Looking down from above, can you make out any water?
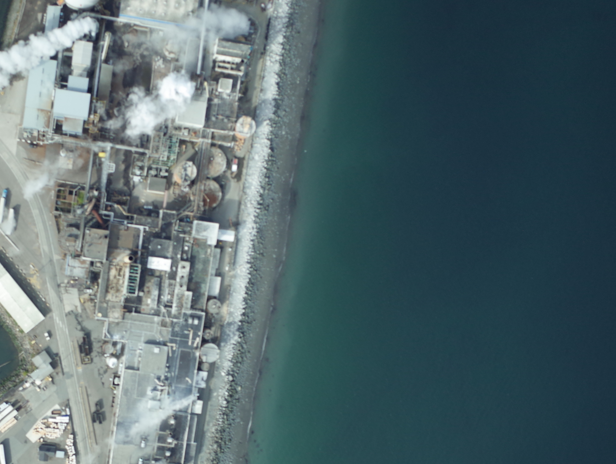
Yes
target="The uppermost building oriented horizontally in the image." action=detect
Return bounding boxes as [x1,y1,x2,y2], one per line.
[119,0,199,33]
